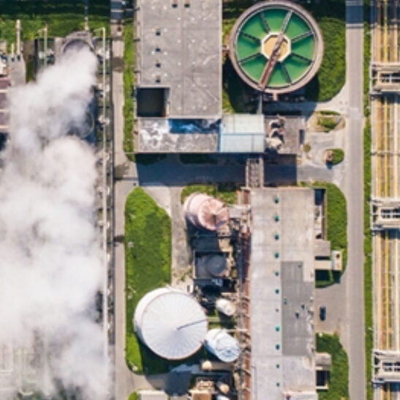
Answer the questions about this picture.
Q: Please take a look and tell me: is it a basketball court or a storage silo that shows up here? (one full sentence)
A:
It is a storage silo that can be seen here.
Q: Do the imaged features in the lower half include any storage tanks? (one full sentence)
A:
Yes, you'll find a storage tank in the lower half.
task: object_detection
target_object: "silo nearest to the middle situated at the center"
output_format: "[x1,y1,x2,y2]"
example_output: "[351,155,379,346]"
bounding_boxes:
[179,195,231,235]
